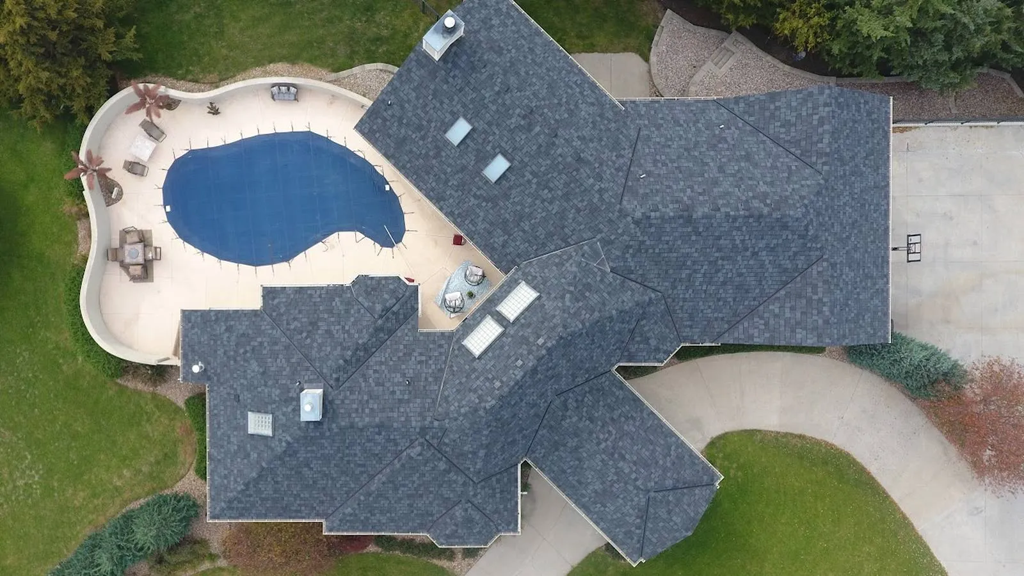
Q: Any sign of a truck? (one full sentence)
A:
No, the frame has no truck in it.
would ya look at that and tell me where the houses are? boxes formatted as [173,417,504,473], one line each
[179,0,894,567]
